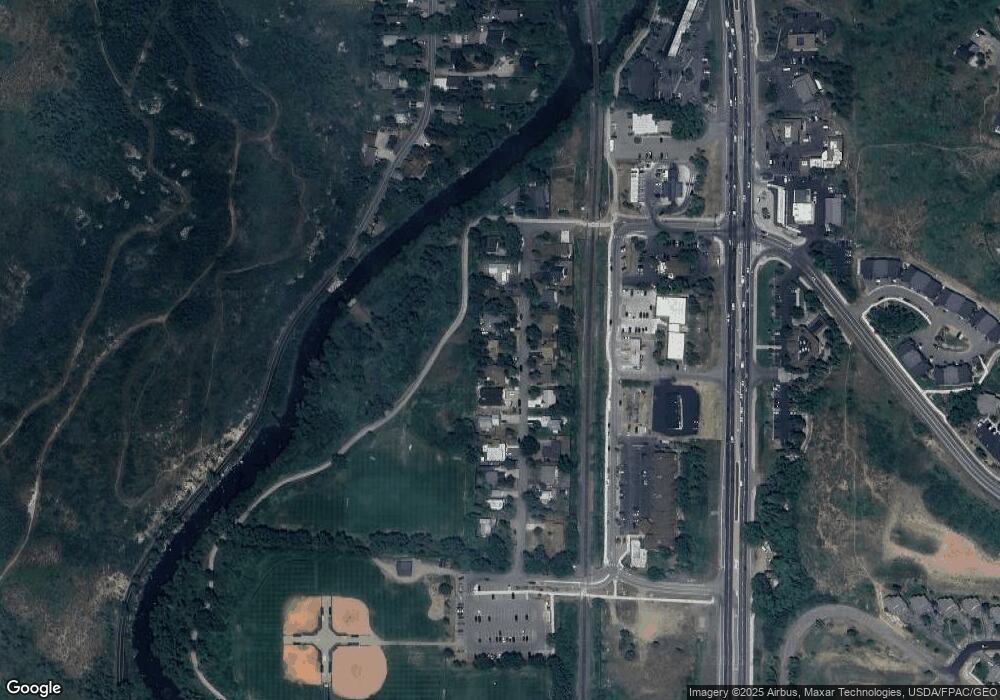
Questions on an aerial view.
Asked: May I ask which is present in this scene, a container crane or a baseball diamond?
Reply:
baseball diamond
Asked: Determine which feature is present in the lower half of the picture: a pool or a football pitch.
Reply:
football pitch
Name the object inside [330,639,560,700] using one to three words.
baseball field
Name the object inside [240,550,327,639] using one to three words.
baseball field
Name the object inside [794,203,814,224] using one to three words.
building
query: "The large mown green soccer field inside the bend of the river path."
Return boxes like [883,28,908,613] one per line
[254,447,475,536]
